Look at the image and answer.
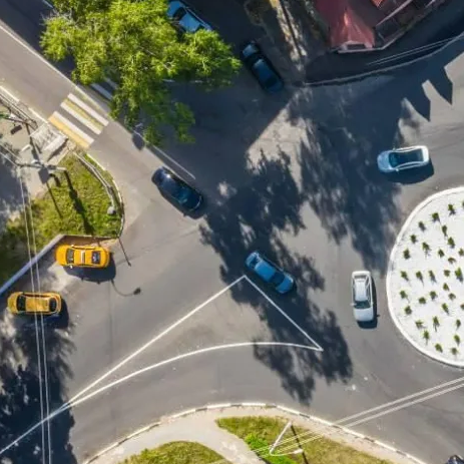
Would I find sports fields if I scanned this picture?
No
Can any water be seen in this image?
No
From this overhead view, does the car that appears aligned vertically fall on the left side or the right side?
right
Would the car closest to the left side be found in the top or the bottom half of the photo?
bottom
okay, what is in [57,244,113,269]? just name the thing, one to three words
car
